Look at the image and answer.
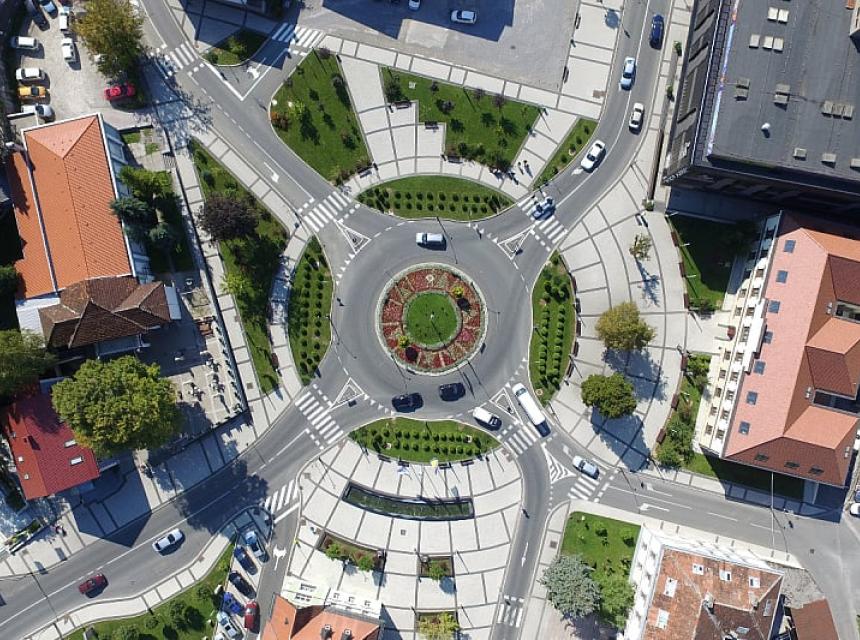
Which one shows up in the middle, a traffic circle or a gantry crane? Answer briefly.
traffic circle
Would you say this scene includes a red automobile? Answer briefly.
Yes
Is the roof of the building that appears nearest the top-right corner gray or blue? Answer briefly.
gray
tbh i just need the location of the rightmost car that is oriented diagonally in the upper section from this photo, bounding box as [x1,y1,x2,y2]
[580,139,605,170]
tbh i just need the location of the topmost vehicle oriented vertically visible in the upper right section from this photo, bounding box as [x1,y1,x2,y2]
[648,15,665,49]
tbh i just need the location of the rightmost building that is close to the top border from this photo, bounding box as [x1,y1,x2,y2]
[663,0,860,213]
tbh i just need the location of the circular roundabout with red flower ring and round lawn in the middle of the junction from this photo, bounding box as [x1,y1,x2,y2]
[333,221,530,418]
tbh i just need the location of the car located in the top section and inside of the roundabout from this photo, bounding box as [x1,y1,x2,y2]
[417,233,443,246]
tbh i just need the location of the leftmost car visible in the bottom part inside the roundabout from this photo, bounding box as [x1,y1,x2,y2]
[392,394,423,409]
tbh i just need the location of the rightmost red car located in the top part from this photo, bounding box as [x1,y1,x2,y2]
[106,84,135,101]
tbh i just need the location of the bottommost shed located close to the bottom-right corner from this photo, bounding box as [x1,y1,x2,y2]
[785,596,839,640]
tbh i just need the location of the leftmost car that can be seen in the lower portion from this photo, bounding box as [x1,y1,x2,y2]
[79,572,109,595]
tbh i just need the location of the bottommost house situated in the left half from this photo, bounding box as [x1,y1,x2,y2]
[264,579,382,640]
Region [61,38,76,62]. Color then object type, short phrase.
white car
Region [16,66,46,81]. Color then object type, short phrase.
white car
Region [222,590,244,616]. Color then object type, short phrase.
blue car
